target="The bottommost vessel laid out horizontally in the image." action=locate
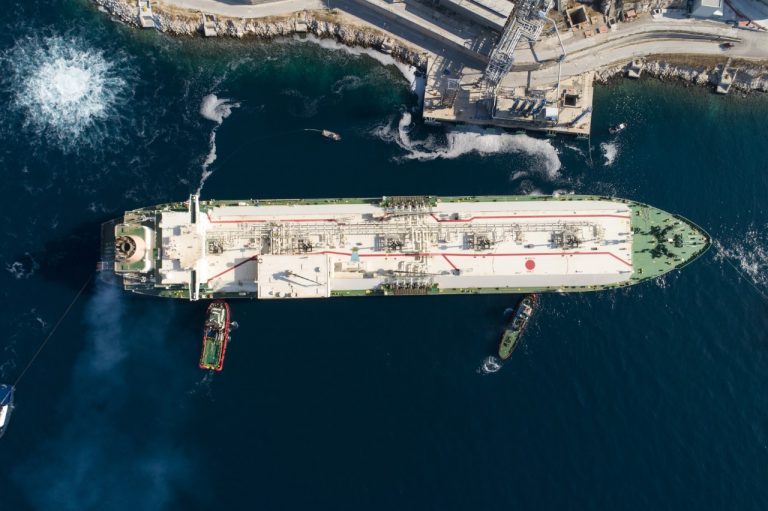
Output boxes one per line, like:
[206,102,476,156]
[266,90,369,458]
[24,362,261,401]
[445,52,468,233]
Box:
[92,194,714,300]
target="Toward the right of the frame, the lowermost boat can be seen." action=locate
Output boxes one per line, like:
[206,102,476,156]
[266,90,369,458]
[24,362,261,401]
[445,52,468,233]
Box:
[500,295,534,359]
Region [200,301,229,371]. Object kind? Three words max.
boat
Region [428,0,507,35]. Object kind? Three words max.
building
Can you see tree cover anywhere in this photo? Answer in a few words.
No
